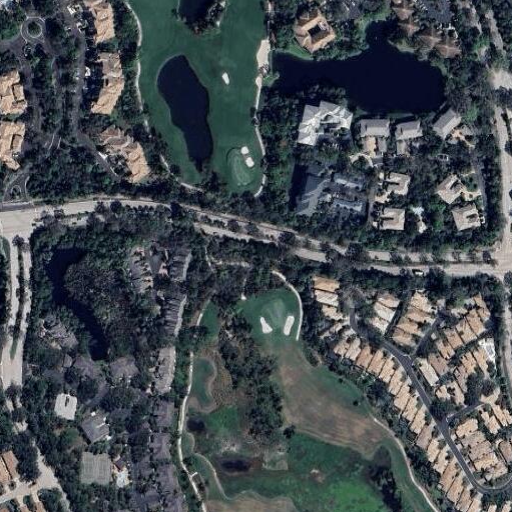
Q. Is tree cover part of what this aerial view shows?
Yes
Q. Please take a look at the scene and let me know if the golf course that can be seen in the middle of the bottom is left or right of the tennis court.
to the right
